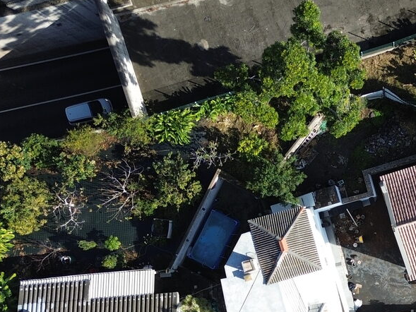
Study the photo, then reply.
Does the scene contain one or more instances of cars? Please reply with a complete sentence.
Yes, there's a car down there.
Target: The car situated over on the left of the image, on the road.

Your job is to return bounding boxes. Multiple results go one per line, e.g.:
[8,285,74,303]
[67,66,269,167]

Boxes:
[65,99,113,126]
